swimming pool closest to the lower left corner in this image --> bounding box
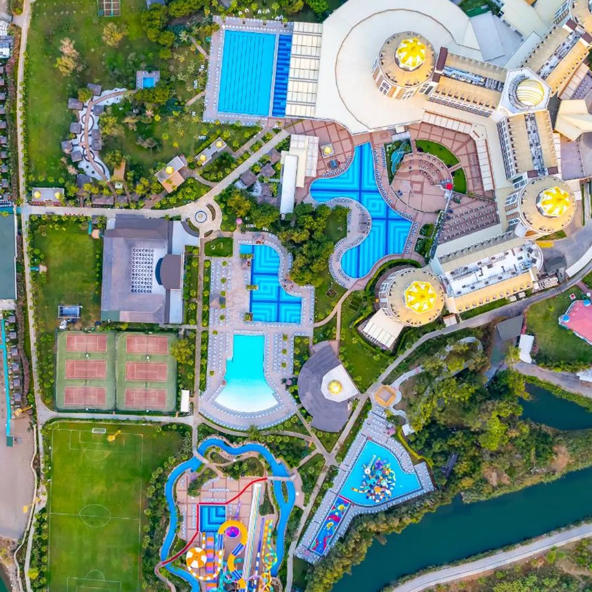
[199,506,226,534]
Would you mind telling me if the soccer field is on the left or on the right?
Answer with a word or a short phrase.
left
